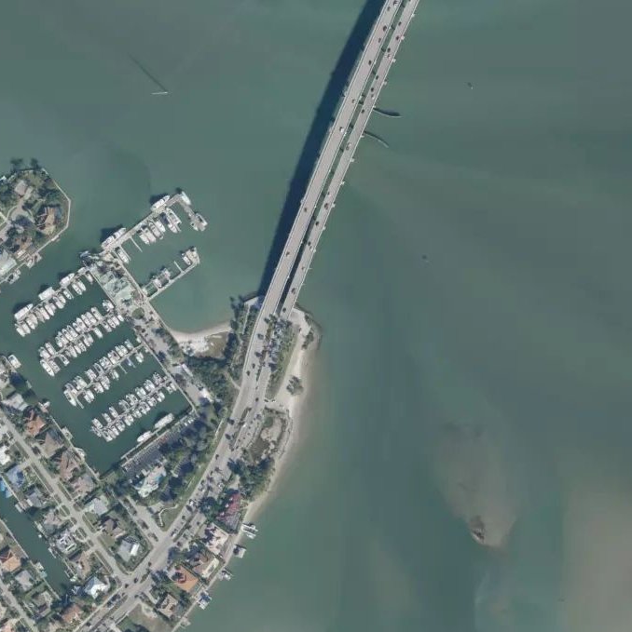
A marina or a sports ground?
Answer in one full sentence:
This looks like a marina.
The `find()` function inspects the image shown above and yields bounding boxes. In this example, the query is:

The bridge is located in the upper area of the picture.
[264,0,402,312]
